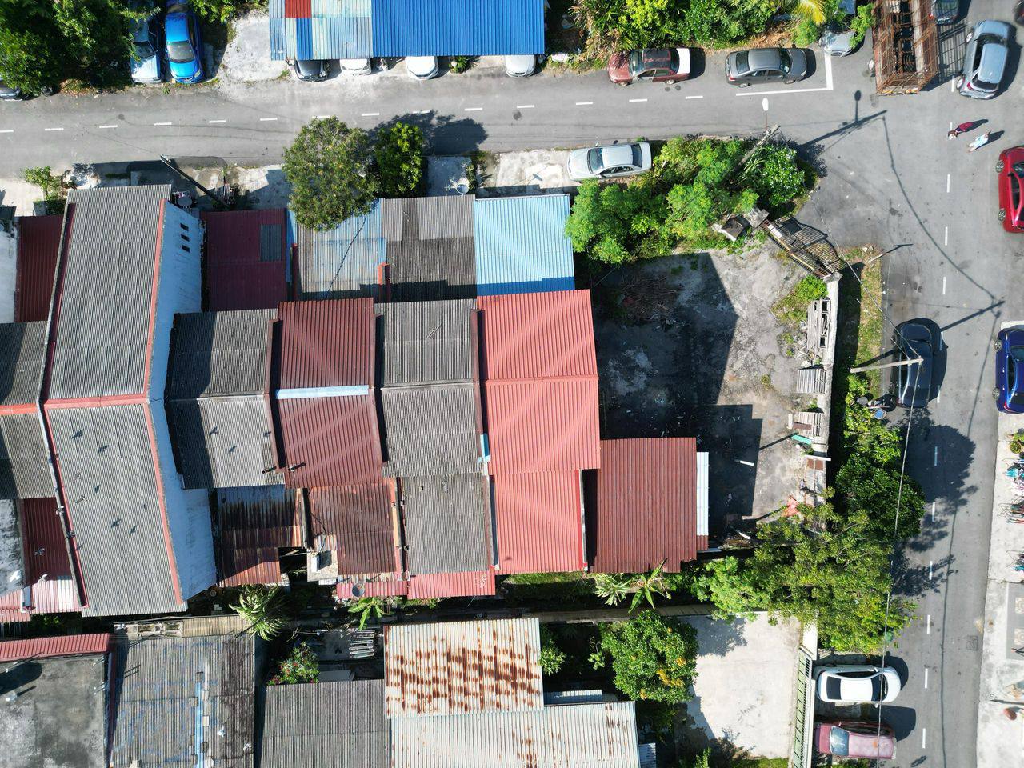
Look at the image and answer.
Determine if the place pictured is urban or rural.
urban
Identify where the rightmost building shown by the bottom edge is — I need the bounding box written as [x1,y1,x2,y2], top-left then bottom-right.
[383,612,657,768]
